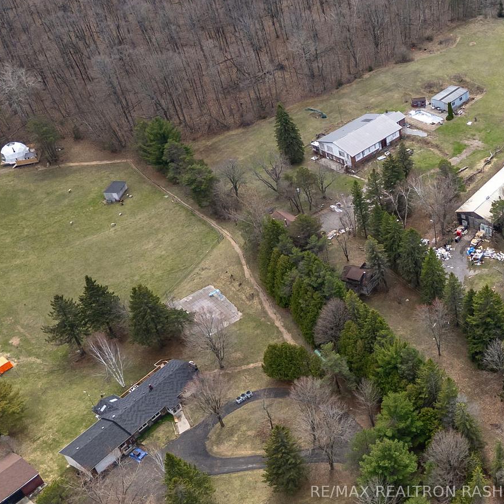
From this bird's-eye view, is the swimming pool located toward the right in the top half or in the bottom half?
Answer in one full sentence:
The swimming pool located toward the right is in the top half of the image.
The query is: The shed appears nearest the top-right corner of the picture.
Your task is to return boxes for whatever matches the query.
[436,85,469,109]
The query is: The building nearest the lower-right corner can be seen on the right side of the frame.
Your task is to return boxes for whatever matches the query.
[340,259,380,300]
